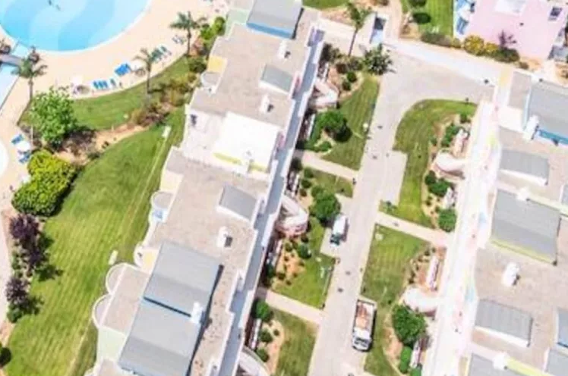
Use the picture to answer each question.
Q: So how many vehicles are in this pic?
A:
2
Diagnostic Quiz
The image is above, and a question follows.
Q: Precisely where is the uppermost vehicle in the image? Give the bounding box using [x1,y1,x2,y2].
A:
[327,207,354,245]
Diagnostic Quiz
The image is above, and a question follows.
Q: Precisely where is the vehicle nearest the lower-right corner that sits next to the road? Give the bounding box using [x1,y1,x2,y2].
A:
[351,294,381,349]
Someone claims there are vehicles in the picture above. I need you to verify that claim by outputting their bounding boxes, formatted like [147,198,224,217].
[327,207,354,245]
[351,294,381,349]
